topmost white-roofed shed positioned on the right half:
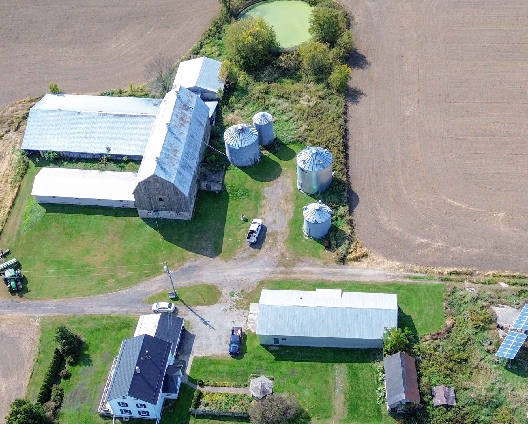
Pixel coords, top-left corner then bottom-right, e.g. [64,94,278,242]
[258,289,397,349]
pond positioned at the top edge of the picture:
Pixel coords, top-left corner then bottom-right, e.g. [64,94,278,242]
[243,1,314,47]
